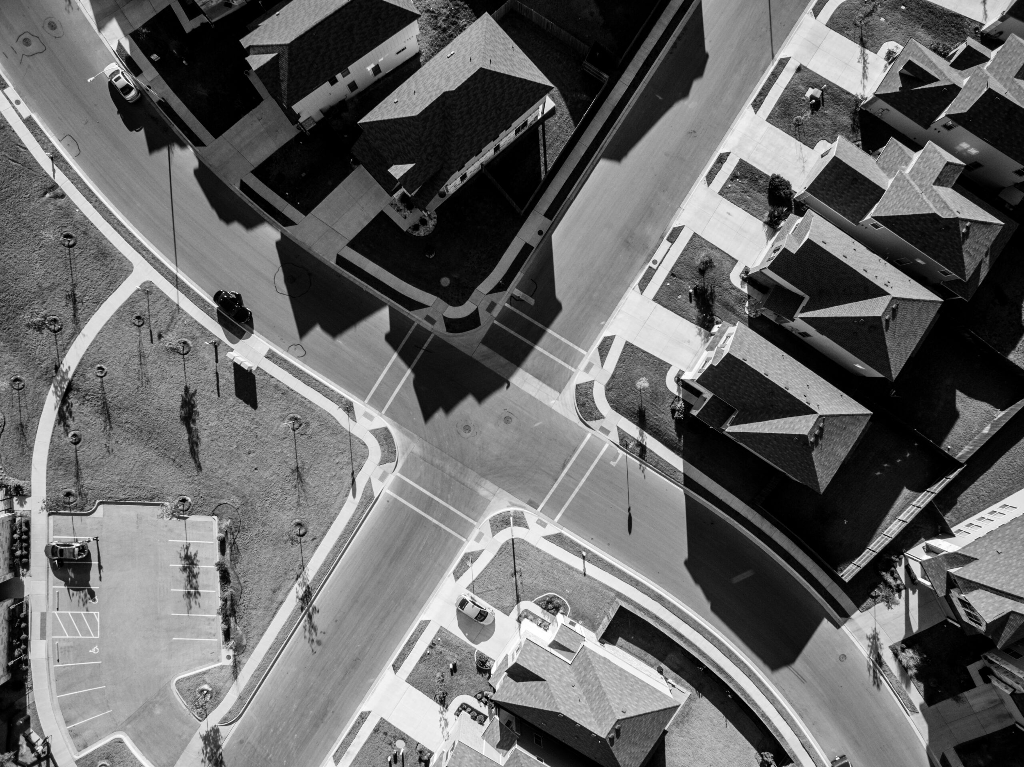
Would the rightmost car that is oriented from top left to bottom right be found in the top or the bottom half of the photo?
bottom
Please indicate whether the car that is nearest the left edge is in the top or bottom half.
bottom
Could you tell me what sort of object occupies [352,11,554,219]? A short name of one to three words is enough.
house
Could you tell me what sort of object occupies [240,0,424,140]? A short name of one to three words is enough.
house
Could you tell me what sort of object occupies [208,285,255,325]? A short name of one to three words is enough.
car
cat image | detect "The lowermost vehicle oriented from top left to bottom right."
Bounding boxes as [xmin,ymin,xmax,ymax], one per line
[451,593,496,628]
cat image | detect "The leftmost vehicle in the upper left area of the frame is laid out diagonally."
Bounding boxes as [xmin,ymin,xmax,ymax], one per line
[104,60,142,107]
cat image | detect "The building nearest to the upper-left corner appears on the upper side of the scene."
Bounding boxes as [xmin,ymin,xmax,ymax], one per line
[194,0,251,29]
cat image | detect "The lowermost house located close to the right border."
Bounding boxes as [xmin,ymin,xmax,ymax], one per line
[992,649,1024,725]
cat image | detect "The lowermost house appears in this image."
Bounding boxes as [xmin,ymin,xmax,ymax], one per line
[433,716,551,767]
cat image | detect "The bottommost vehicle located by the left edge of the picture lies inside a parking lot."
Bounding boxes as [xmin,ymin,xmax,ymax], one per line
[44,540,91,570]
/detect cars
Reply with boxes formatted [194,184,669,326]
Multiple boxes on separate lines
[44,540,91,570]
[208,285,255,325]
[451,593,496,628]
[104,60,142,107]
[829,757,851,767]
